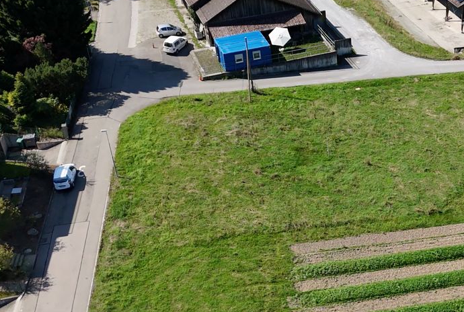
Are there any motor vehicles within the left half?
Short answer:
Yes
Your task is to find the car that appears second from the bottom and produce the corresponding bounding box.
[163,36,192,54]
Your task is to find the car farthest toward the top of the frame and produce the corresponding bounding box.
[157,22,184,36]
